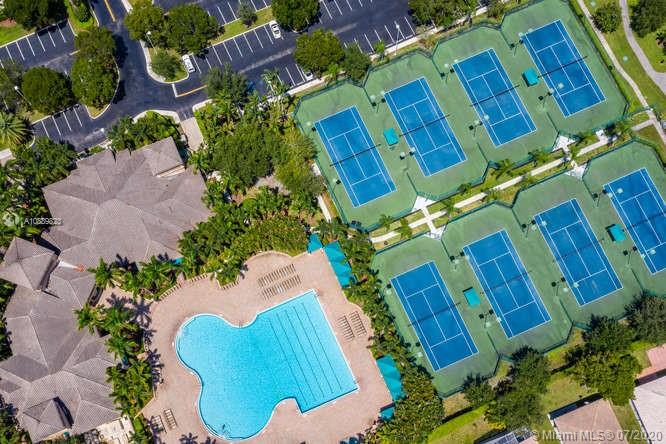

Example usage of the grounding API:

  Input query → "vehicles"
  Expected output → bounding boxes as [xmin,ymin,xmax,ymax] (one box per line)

[181,53,195,72]
[269,22,282,39]
[302,64,315,83]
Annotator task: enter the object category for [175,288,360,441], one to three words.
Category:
swimming pool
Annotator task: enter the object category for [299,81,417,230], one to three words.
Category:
tennis court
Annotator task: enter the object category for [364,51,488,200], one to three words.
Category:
tennis court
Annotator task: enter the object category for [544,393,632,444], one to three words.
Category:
house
